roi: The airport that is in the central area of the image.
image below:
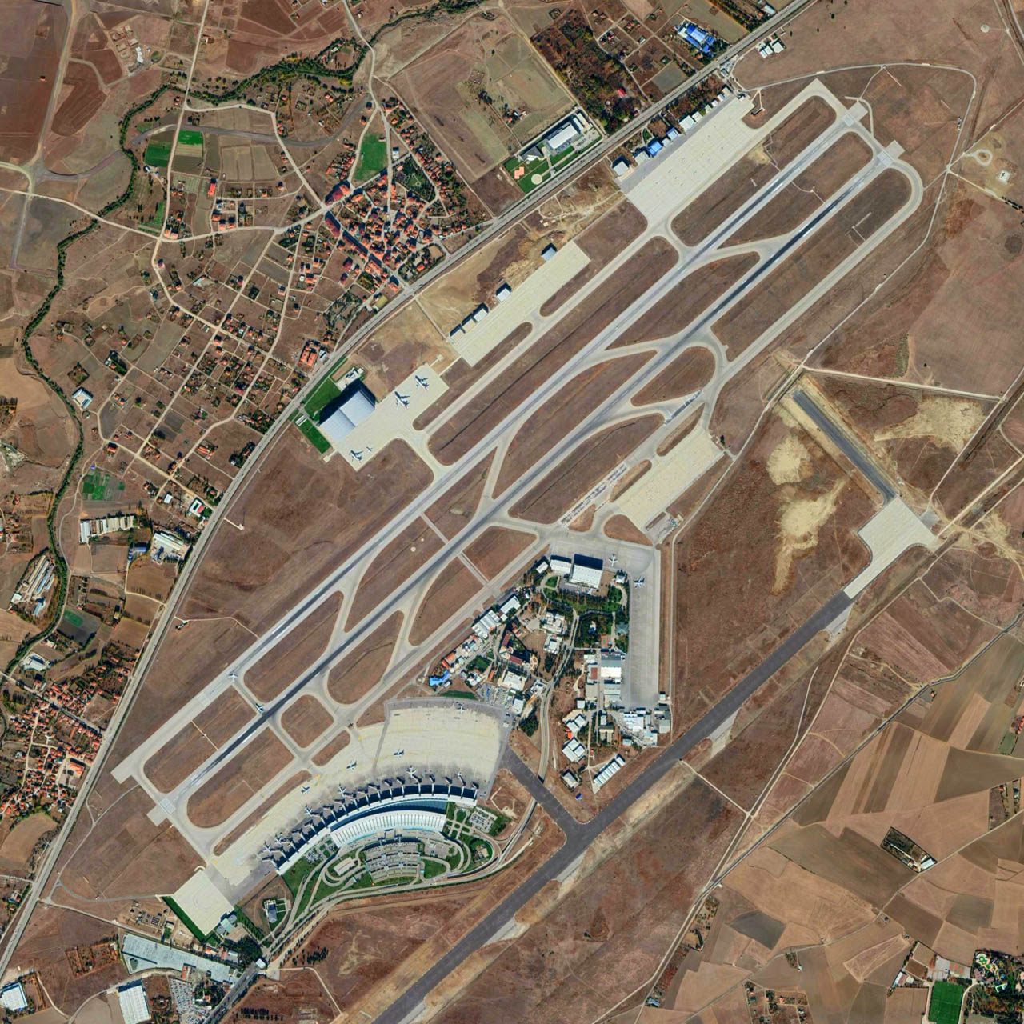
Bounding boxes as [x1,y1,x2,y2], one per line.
[112,79,938,1024]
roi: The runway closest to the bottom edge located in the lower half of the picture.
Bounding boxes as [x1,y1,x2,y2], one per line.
[373,590,852,1024]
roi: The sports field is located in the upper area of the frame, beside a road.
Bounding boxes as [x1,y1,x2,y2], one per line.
[354,138,387,180]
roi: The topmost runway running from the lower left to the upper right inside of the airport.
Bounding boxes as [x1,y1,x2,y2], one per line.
[115,114,855,777]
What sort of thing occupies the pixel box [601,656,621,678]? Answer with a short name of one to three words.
hangar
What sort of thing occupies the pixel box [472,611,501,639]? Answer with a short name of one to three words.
hangar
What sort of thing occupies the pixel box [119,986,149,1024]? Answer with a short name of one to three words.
building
